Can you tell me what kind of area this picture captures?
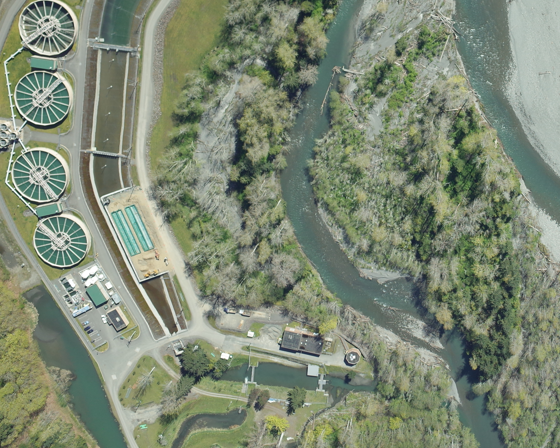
industrial area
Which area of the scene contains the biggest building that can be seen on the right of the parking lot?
bottom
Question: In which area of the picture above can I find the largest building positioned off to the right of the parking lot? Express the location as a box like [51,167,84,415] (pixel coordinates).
[280,325,324,355]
